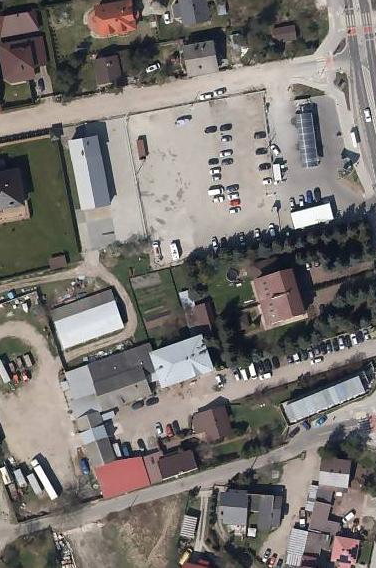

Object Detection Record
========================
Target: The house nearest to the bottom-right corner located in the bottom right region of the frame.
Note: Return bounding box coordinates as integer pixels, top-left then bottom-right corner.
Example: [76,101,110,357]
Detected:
[329,536,361,568]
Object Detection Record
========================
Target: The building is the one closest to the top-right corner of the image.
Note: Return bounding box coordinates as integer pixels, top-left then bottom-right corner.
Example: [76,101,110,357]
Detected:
[273,24,297,43]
